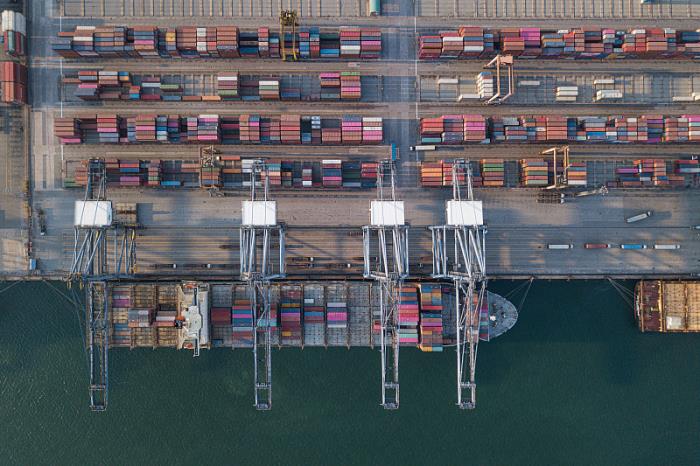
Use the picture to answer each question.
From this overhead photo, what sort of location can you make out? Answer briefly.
port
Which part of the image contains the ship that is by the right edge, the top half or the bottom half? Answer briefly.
bottom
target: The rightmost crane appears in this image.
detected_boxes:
[537,148,569,192]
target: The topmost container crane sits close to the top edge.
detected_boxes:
[280,7,304,62]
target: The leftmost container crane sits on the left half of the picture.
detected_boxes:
[57,161,140,410]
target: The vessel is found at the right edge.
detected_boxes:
[631,280,700,333]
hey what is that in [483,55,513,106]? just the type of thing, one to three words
container crane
